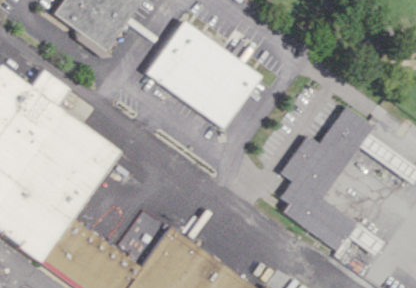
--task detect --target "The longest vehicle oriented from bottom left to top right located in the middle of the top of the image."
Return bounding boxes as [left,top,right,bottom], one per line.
[240,44,255,62]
